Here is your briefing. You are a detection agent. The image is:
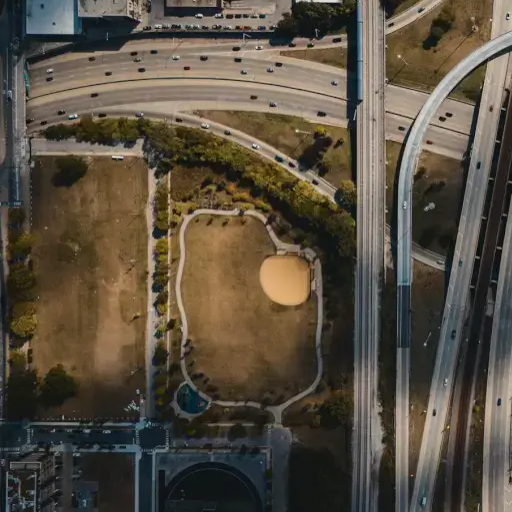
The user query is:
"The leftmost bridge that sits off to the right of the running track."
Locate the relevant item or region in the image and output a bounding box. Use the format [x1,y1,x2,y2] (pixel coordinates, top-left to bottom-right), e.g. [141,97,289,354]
[351,0,387,512]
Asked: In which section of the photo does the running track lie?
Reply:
bottom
